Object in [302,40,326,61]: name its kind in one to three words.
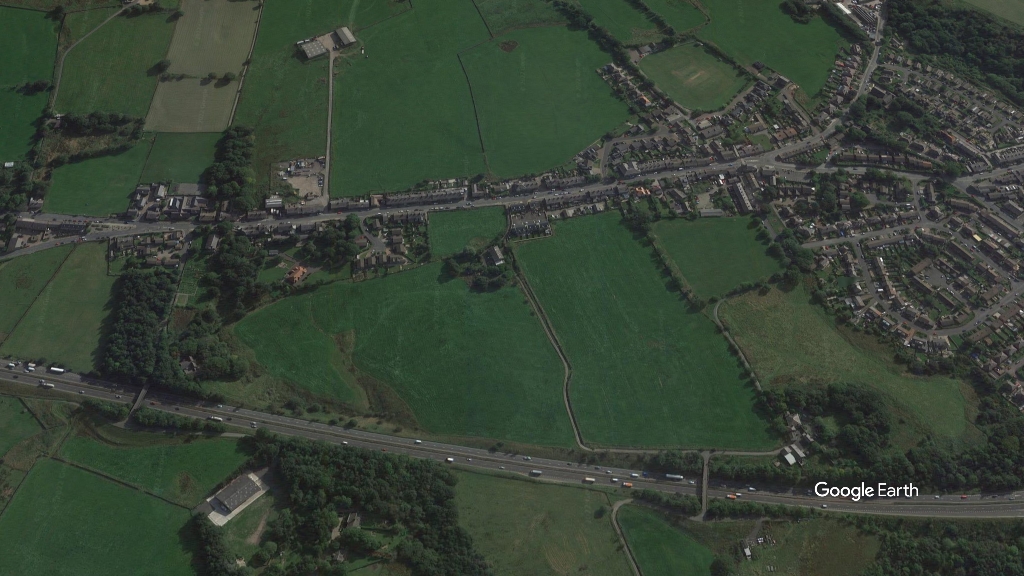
barn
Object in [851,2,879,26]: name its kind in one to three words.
building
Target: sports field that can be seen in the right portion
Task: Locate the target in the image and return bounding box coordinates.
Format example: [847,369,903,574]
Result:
[641,41,748,112]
